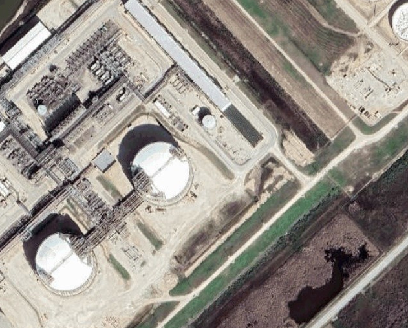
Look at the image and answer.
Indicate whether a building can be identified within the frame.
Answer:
Yes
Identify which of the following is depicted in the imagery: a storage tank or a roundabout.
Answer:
storage tank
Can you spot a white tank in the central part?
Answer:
Yes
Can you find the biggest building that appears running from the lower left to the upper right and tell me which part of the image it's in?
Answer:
top left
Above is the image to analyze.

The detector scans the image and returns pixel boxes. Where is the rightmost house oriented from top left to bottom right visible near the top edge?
[124,0,228,110]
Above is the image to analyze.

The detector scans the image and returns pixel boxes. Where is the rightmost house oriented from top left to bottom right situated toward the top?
[223,104,263,148]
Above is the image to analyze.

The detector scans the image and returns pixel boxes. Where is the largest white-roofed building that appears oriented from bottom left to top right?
[1,21,52,72]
